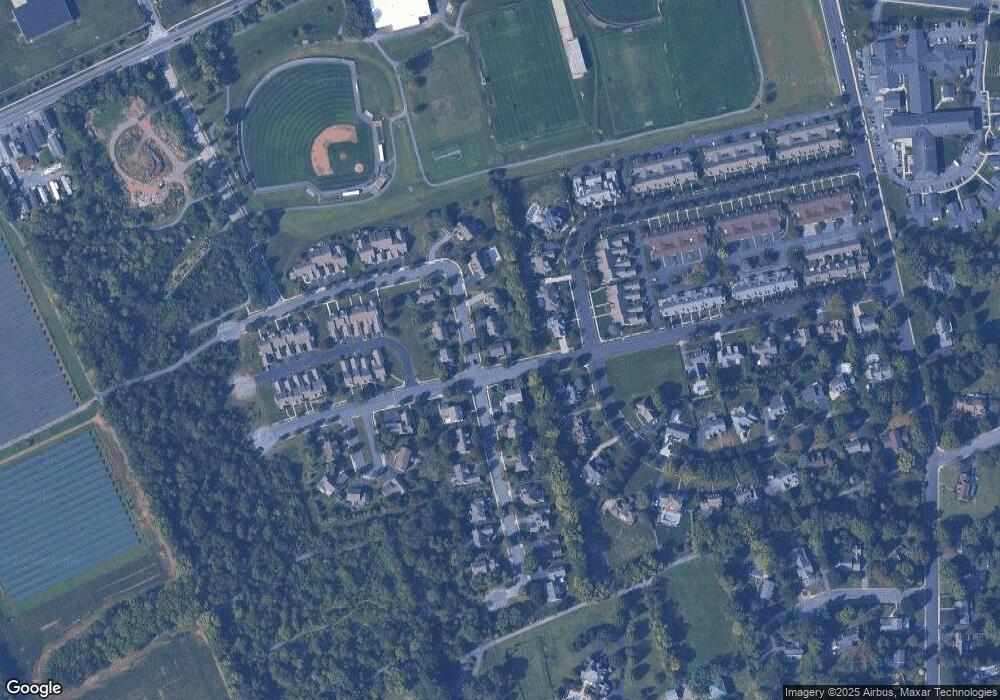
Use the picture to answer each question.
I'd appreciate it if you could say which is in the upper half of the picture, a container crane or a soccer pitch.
soccer pitch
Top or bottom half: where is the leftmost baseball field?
top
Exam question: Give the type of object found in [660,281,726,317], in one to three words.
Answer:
house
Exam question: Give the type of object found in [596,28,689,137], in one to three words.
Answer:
soccer field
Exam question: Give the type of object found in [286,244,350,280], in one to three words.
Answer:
house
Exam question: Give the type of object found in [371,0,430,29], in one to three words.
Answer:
building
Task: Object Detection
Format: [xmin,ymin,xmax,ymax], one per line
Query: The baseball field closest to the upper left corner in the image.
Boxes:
[241,57,381,194]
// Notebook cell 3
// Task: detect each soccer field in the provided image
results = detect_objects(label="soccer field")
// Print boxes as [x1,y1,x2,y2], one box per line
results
[468,0,590,154]
[662,0,758,117]
[596,28,689,137]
